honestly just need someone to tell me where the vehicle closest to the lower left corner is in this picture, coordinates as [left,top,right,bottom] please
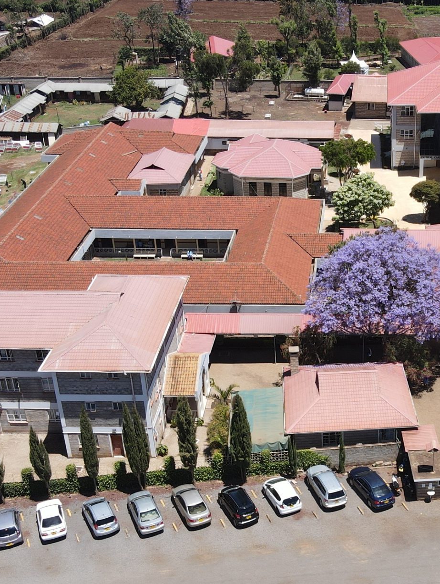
[0,503,23,549]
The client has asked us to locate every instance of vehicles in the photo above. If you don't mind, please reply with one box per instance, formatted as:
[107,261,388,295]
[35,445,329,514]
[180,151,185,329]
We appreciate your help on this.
[334,465,391,512]
[33,494,67,542]
[262,474,300,516]
[81,494,118,537]
[126,484,165,536]
[215,480,258,525]
[304,462,346,509]
[0,503,23,549]
[173,479,210,528]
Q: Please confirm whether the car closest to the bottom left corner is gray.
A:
Yes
